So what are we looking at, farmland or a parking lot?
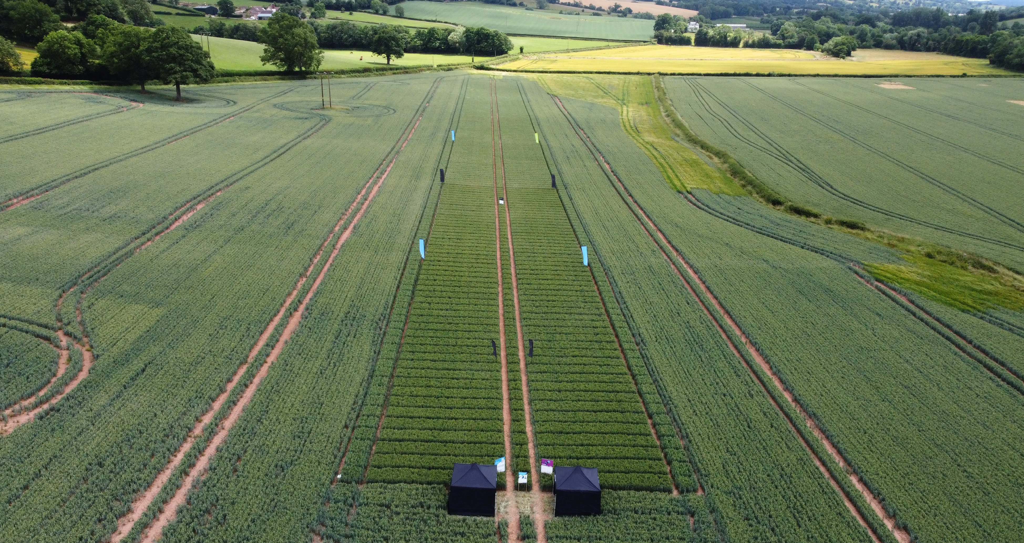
farmland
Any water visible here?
No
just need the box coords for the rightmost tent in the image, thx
[549,462,604,520]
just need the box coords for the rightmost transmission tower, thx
[316,72,333,107]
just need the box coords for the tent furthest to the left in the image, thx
[448,460,504,518]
